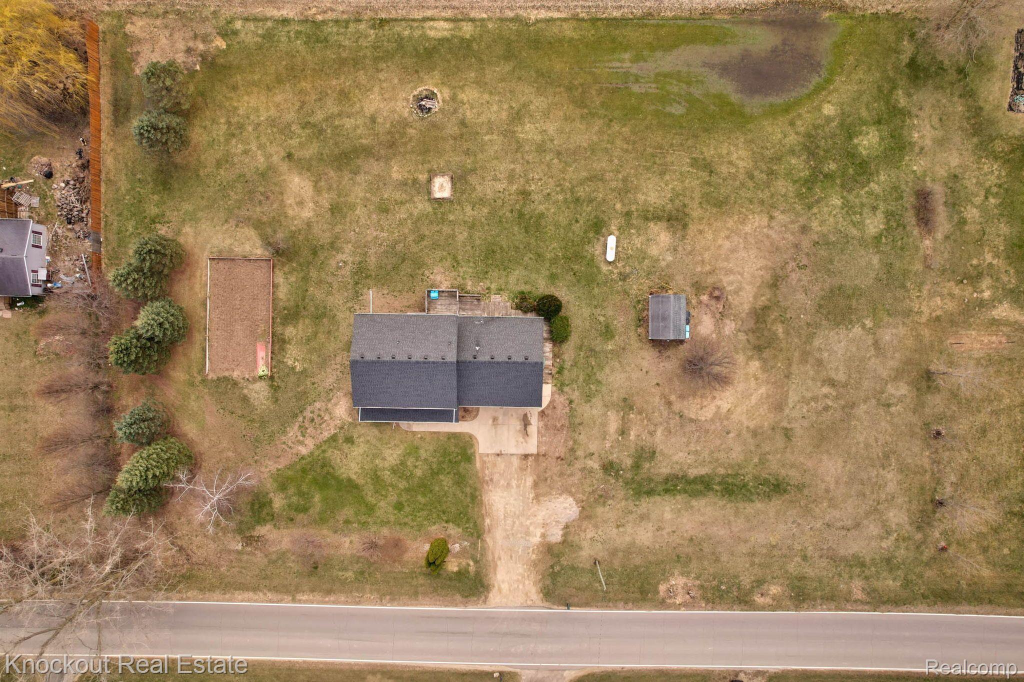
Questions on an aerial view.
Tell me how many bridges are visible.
0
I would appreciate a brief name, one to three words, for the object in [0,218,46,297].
house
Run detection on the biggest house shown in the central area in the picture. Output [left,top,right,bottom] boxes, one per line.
[350,311,544,422]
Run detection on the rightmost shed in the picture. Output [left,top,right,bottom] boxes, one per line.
[648,294,686,340]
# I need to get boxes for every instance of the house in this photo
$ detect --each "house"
[350,311,544,422]
[0,218,46,297]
